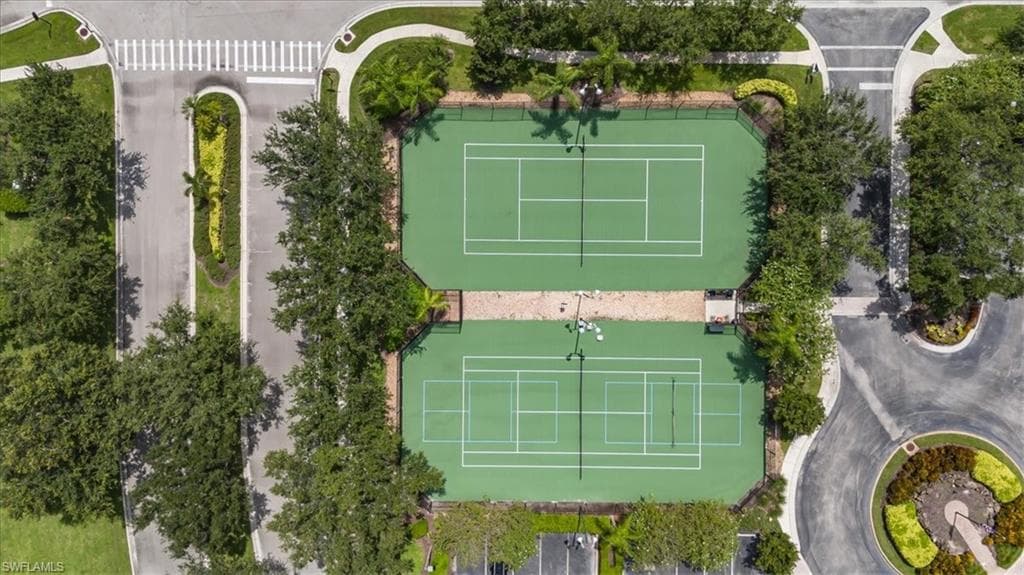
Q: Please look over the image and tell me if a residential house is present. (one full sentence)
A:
No, there is no residential house in the image.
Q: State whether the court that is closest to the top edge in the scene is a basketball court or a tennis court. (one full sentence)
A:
The court that is closest to the top edge in the image is a tennis court.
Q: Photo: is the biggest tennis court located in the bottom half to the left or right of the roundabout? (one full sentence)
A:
Looking at the picture, you'll find the biggest tennis court located in the bottom half to the left of the roundabout.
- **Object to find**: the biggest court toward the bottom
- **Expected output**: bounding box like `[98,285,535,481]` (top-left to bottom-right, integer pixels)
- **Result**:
[402,321,766,503]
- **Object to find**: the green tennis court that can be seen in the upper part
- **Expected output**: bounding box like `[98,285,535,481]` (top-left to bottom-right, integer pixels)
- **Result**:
[401,108,767,290]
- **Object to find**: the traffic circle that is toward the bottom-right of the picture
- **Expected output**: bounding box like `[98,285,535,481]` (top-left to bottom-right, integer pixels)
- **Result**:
[870,431,1024,575]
